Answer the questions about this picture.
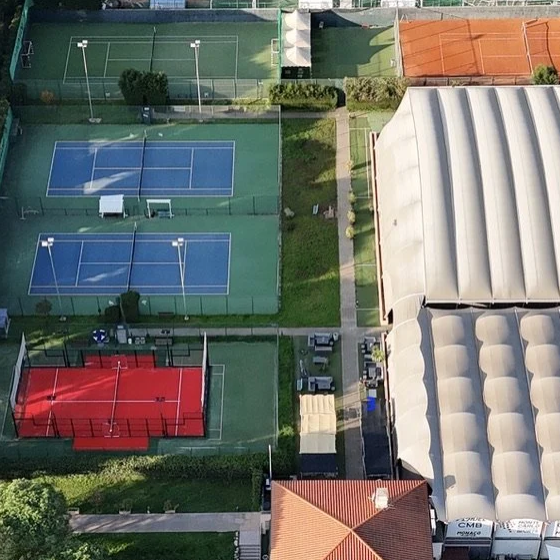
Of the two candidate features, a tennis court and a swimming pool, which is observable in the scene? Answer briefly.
tennis court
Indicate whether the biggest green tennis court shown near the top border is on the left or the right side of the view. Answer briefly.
left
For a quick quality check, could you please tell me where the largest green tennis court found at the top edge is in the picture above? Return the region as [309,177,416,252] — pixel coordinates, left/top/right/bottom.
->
[13,22,281,93]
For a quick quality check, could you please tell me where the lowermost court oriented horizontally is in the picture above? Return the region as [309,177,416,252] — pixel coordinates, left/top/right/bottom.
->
[0,338,279,451]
